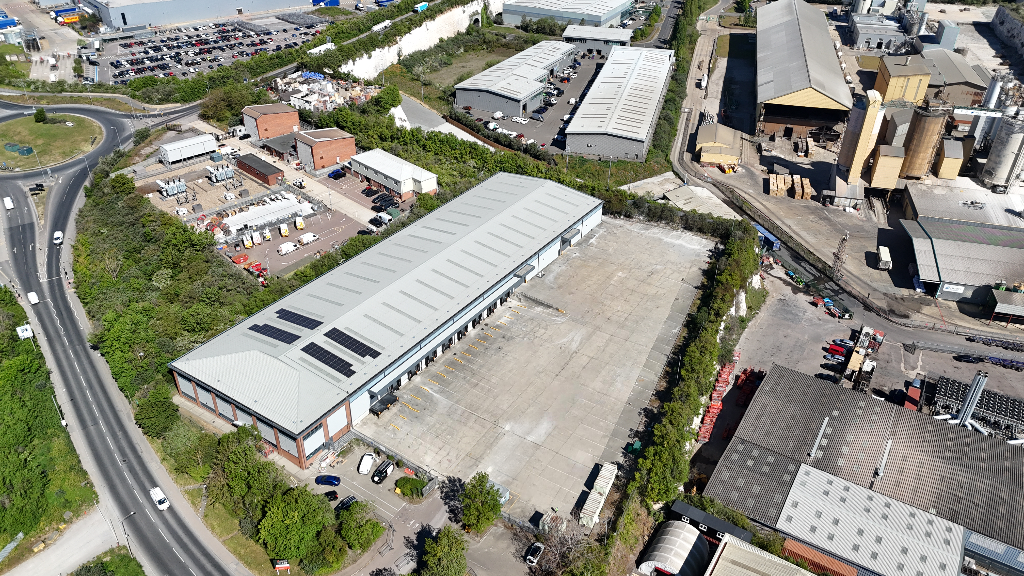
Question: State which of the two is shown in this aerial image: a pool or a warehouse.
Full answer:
The one in the frame is a warehouse.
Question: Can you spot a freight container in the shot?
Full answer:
Yes, this view includes a freight container.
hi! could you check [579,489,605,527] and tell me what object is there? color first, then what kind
white shipping container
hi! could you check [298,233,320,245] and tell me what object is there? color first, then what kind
white vehicle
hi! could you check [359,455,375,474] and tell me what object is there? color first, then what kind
white car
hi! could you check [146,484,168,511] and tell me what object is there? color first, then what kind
white vehicle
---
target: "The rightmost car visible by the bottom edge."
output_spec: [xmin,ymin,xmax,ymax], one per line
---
[526,543,543,565]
